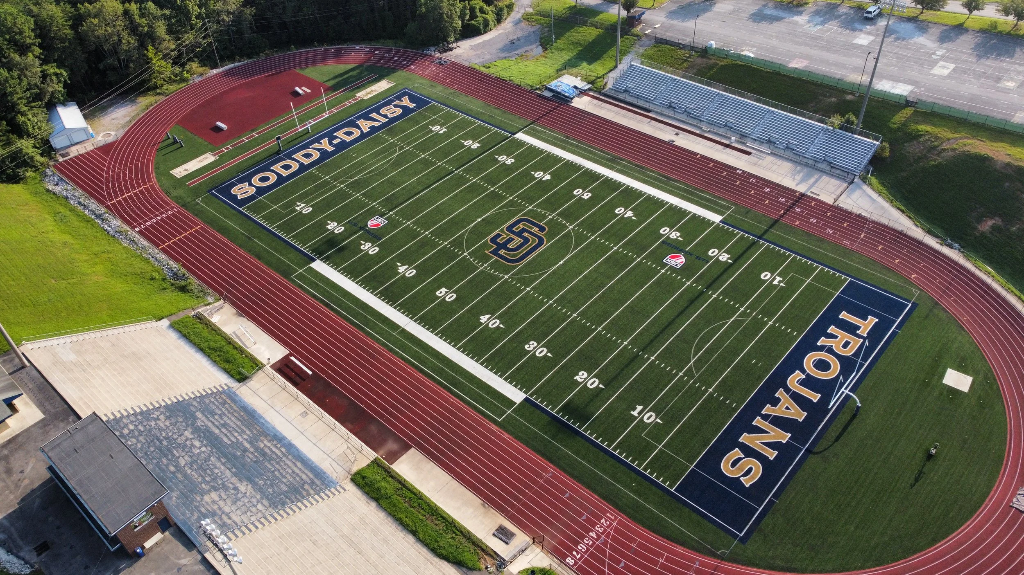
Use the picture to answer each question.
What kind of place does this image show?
sports ground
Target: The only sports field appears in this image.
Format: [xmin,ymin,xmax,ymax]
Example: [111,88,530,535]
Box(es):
[153,63,1009,574]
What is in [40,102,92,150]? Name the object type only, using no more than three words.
shed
